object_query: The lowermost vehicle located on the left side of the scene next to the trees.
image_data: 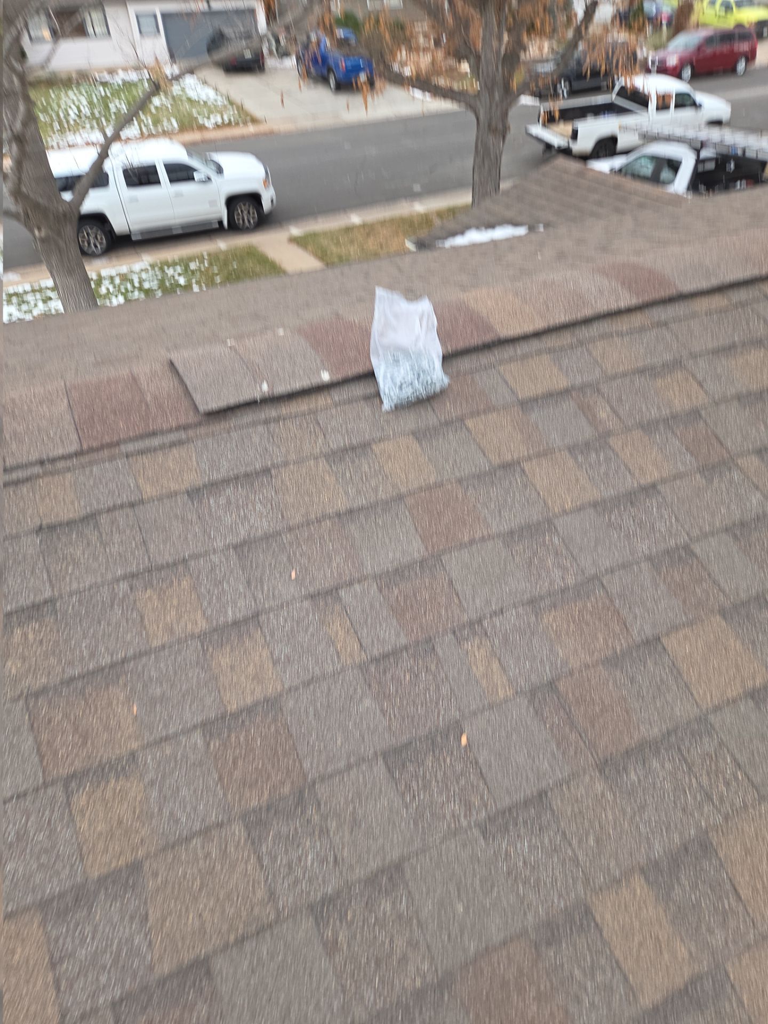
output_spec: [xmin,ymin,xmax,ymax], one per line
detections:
[17,137,274,257]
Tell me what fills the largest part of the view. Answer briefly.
buildings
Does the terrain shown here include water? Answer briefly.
No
